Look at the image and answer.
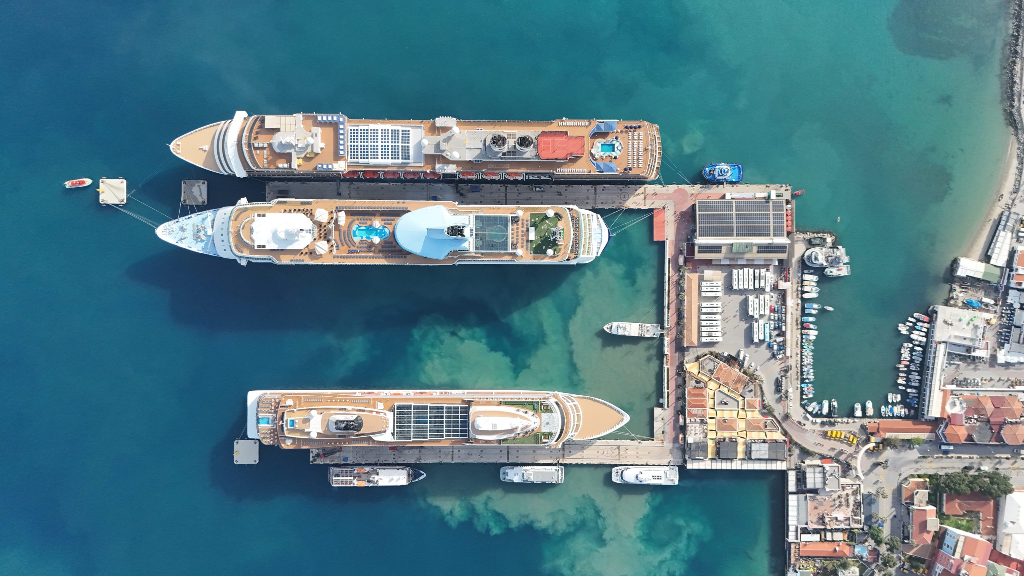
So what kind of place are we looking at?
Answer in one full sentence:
The area seen from above is a port.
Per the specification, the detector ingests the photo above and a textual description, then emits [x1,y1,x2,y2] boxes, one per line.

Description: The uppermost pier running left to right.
[266,183,792,209]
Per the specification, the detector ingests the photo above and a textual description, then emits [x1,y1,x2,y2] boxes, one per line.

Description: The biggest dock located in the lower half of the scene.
[310,439,682,464]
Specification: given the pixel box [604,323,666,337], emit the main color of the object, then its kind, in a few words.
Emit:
white ship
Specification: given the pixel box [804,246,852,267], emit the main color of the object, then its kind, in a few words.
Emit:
white boat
